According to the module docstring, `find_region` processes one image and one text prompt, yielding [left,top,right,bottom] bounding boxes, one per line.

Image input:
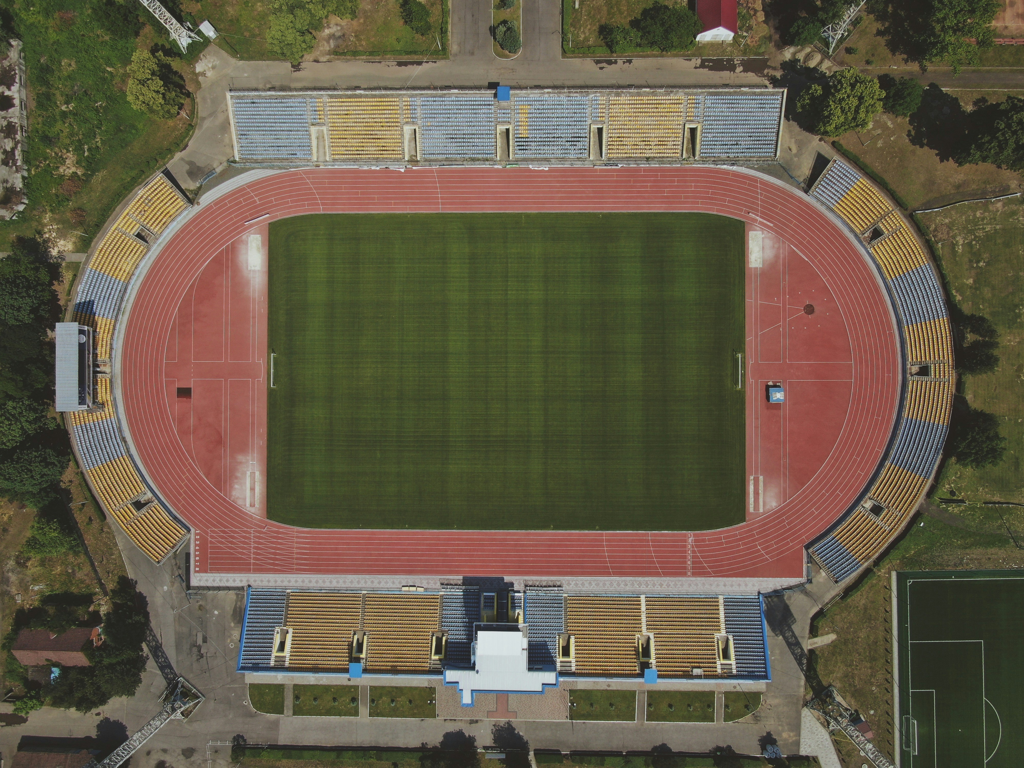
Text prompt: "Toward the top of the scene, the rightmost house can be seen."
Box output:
[694,0,736,39]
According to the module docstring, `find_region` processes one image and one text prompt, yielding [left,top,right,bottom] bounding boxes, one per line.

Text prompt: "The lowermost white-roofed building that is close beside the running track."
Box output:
[442,621,560,707]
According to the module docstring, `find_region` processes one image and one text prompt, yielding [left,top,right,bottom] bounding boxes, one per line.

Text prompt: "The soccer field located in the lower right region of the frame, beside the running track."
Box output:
[897,568,1024,768]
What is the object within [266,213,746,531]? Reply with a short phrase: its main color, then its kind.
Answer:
green soccer field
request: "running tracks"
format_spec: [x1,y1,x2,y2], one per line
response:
[121,166,899,580]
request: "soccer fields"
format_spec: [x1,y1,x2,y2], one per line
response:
[897,568,1024,768]
[266,213,746,531]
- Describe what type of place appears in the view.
sports ground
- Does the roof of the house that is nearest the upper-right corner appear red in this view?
Yes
